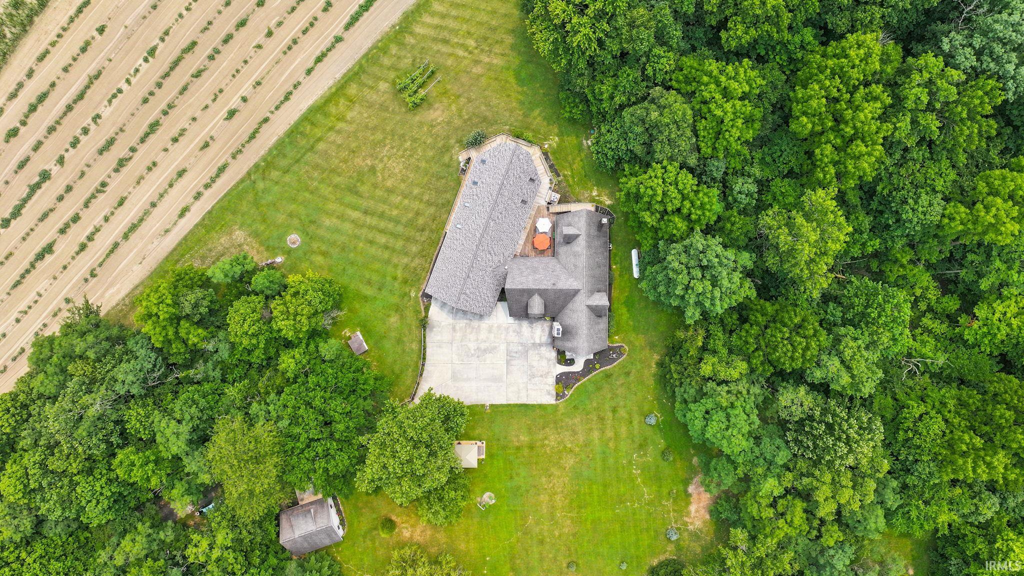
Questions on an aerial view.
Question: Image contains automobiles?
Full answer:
No, there isn't any automobile down there.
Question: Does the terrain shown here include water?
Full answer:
No, there's no water in this view.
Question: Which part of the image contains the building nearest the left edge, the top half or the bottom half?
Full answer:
The building nearest the left edge is in the bottom half of the image.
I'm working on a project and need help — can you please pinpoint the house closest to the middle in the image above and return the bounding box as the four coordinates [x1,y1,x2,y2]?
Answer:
[424,143,609,356]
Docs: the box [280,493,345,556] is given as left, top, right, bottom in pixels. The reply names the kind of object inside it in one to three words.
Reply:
building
